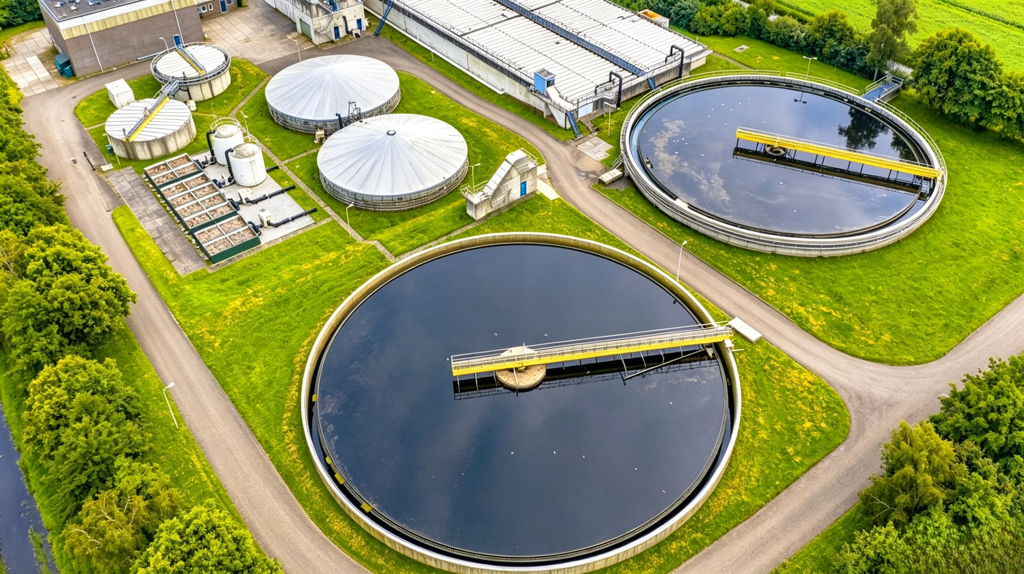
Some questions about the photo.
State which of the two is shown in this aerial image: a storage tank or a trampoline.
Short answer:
storage tank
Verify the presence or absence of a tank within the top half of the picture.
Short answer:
Yes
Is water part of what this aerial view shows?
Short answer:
Yes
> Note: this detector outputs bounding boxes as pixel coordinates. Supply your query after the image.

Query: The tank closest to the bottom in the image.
[300,232,742,574]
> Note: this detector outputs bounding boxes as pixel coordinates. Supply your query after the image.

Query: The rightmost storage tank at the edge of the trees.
[622,70,948,257]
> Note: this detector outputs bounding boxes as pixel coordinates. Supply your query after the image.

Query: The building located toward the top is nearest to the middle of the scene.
[462,146,538,220]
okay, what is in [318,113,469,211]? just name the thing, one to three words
storage tank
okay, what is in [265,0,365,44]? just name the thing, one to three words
building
